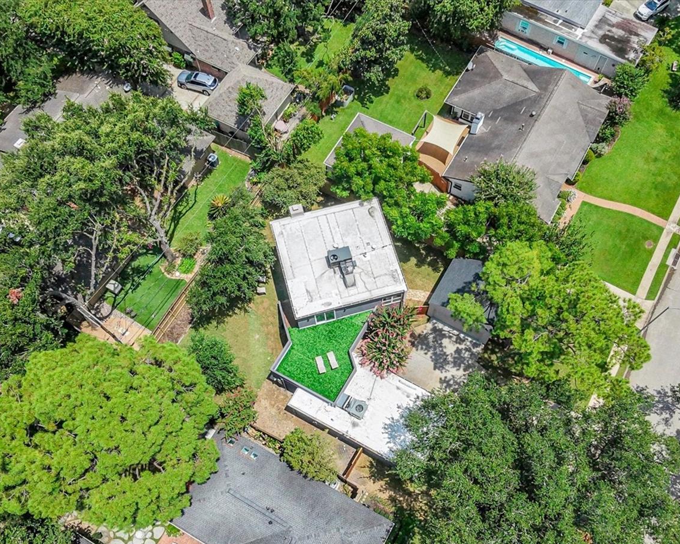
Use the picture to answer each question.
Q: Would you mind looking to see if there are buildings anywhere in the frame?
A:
Yes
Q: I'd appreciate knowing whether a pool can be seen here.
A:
Yes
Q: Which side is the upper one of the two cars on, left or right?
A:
right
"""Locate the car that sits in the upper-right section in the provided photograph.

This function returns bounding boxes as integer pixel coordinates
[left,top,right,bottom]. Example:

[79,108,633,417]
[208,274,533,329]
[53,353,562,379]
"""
[635,0,670,20]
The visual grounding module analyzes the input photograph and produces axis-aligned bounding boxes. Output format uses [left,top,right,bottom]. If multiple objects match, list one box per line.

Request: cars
[635,0,670,20]
[174,72,216,97]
